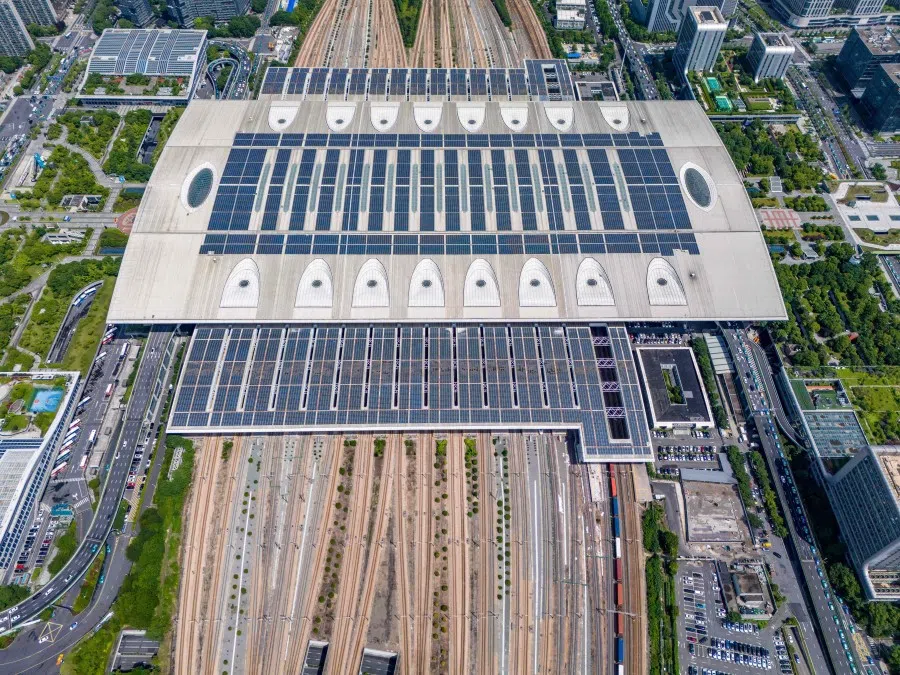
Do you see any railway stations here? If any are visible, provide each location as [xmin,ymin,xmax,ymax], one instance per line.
[105,59,788,468]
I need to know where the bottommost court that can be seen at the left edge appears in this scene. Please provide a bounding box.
[25,387,66,412]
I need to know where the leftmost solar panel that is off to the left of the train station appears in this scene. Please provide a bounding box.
[0,439,38,461]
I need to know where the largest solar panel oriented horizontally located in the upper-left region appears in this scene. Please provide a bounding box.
[90,27,202,72]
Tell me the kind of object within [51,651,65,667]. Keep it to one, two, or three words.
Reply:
vehicle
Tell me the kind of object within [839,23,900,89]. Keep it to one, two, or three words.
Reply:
building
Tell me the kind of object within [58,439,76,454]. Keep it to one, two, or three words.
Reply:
vehicle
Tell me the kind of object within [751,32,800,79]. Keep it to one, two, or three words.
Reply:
building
